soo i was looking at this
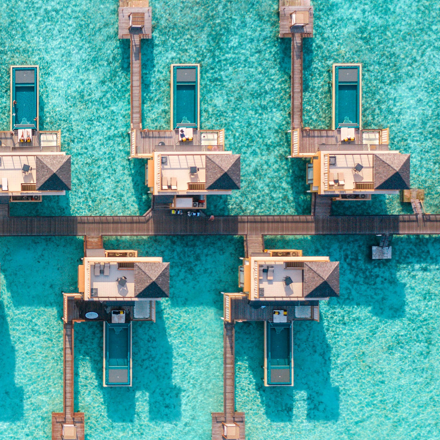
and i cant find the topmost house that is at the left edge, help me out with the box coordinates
[0,128,71,205]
